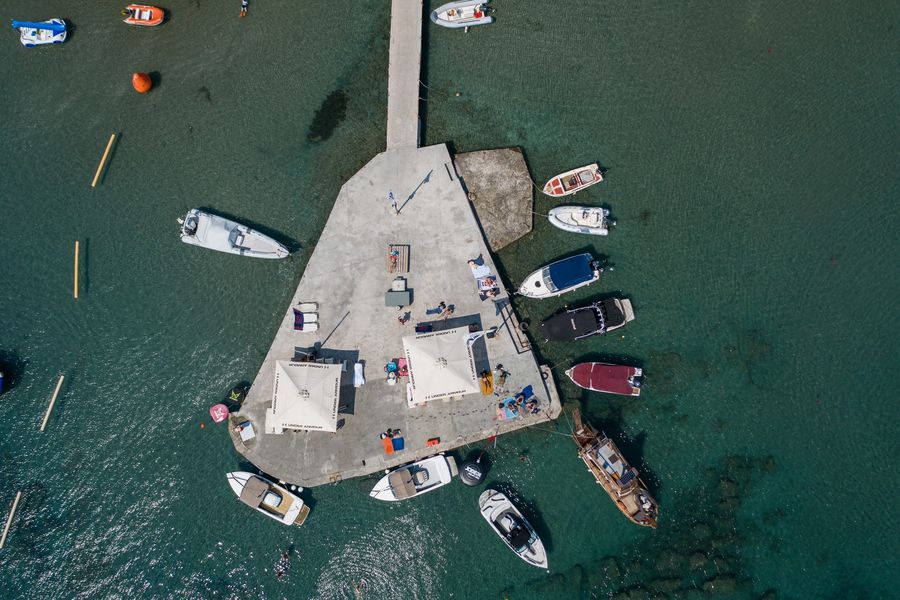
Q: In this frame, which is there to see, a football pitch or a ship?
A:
ship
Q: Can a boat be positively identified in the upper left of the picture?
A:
Yes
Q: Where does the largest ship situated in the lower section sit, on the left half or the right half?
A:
right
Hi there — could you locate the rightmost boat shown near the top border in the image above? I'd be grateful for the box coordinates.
[429,0,499,32]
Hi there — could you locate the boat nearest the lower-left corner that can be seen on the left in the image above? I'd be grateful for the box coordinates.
[225,472,310,524]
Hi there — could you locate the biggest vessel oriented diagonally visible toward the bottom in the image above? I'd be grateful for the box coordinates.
[569,408,659,532]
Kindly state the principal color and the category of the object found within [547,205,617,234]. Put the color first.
white boat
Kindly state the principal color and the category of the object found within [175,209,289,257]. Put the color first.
white boat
